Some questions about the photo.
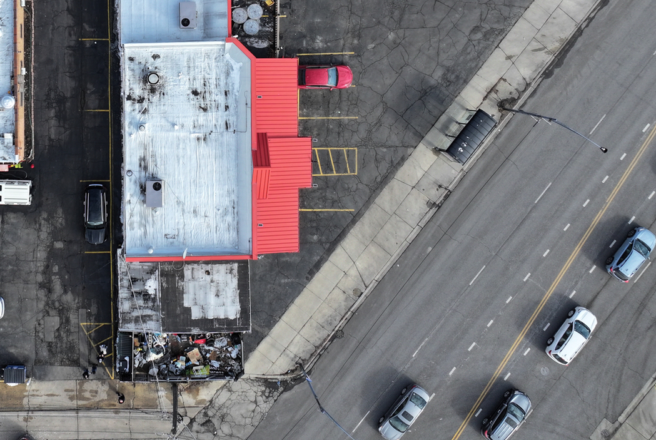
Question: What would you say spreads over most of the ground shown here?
paved ground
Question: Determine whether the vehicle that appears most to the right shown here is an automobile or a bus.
automobile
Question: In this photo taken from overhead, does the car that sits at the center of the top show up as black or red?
red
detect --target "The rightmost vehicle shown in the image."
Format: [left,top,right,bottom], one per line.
[606,228,654,282]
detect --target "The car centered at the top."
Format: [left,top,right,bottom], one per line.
[299,63,353,92]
